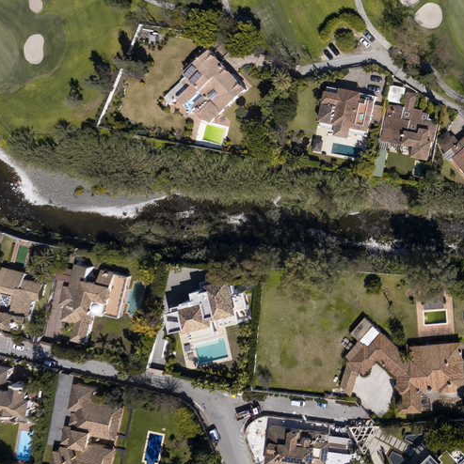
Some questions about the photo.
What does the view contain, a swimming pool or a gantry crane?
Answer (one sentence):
Of the two, only a swimming pool appears.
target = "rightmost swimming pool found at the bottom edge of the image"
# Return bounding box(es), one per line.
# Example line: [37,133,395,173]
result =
[141,432,165,464]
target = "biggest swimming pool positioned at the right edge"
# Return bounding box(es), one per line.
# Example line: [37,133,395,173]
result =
[422,310,447,326]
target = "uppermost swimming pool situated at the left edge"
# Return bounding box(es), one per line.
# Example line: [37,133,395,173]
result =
[11,241,32,267]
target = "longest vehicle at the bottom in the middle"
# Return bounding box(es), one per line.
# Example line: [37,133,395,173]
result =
[236,406,259,418]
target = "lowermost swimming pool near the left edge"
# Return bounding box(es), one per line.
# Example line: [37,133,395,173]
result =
[14,431,34,462]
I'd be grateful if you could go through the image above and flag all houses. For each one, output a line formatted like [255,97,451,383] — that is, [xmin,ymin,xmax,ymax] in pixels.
[164,280,253,335]
[52,380,129,464]
[380,91,440,161]
[438,134,464,171]
[0,267,47,333]
[262,422,330,464]
[166,47,250,123]
[0,354,39,419]
[58,261,127,344]
[338,315,464,417]
[312,84,379,139]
